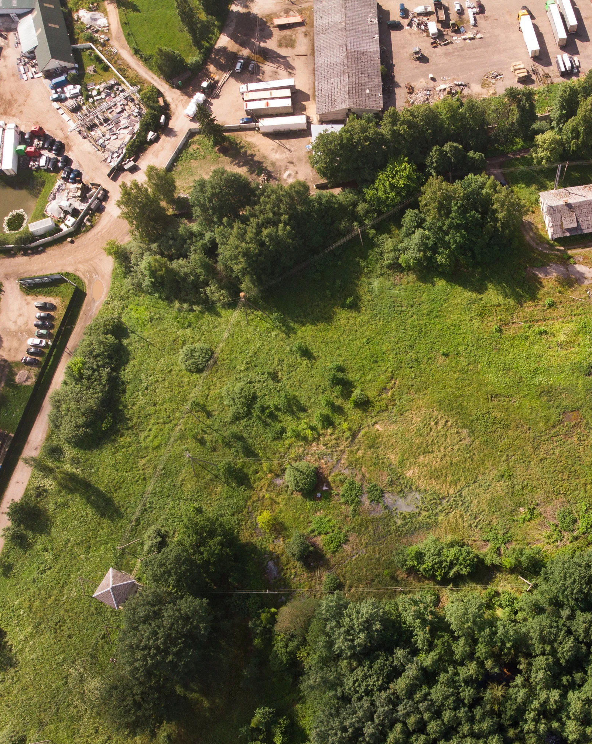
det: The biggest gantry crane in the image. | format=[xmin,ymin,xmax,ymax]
[69,84,145,144]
